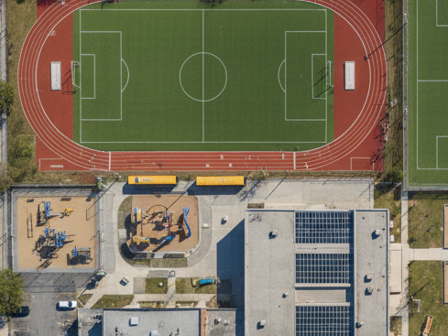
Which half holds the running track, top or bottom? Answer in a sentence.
You can find the running track in the top half.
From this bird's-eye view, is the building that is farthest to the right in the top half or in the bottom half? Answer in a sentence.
The building that is farthest to the right sits in the bottom half of the picture.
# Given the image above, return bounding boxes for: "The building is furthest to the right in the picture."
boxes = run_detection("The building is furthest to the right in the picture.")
[245,209,393,336]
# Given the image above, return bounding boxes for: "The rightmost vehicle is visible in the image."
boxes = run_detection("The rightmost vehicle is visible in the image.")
[197,175,248,188]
